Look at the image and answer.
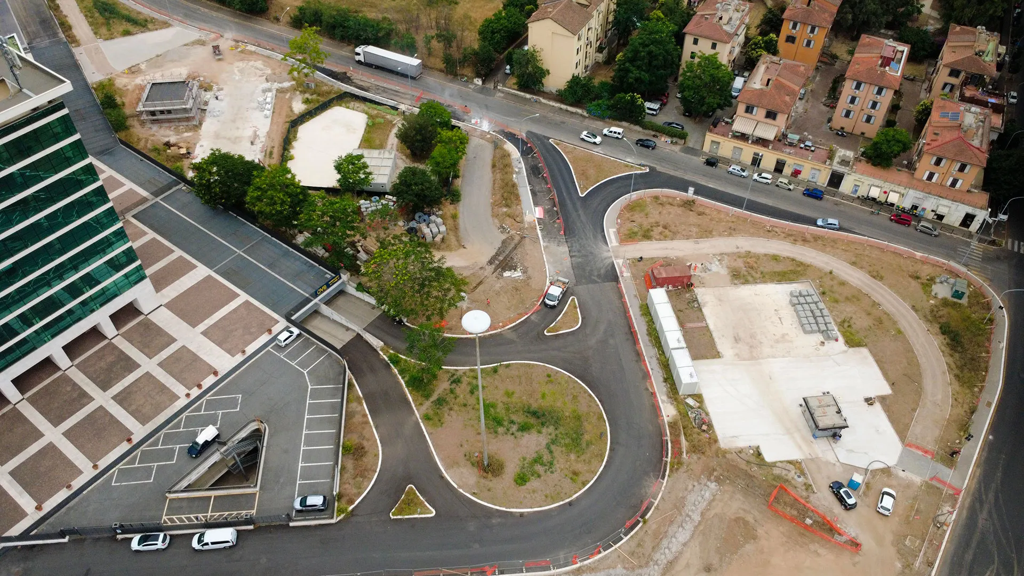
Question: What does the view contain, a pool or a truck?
truck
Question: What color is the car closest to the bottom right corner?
white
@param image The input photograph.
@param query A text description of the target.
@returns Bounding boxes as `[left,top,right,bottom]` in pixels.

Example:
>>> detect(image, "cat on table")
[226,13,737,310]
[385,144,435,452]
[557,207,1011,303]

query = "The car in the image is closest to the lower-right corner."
[875,487,897,519]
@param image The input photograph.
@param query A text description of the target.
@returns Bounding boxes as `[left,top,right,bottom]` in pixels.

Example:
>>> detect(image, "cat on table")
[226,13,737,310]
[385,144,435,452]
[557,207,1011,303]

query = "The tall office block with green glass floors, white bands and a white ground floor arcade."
[0,37,162,405]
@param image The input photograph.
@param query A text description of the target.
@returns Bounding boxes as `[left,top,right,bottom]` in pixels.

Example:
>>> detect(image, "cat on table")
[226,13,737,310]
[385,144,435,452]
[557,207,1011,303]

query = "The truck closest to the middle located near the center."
[546,276,568,304]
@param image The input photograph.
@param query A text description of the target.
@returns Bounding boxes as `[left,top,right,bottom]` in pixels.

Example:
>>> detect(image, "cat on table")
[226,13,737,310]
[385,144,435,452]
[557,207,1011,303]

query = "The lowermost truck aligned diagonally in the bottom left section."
[185,421,223,457]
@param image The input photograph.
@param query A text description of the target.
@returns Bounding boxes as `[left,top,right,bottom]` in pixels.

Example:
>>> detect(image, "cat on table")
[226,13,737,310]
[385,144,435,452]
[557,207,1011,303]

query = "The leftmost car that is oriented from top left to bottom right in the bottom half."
[826,481,862,513]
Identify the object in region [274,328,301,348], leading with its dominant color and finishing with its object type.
white car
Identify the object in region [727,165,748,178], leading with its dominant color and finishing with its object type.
gray vehicle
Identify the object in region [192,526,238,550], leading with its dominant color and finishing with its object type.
white vehicle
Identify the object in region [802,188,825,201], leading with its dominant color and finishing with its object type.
blue vehicle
